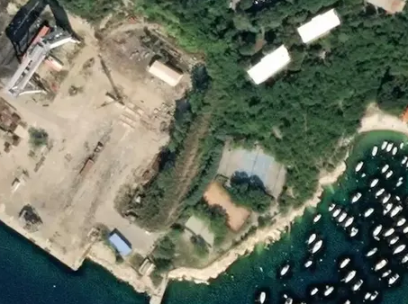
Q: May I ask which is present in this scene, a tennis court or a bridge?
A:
tennis court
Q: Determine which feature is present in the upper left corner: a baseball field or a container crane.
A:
container crane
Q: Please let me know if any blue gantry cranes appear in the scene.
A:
No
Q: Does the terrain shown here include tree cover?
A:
Yes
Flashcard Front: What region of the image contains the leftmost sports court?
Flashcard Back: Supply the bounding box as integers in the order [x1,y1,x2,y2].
[184,217,217,248]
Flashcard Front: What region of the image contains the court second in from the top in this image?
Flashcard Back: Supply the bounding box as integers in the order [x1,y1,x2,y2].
[200,184,253,232]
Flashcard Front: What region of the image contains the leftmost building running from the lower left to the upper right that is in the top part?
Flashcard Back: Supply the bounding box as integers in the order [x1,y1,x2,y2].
[247,44,294,84]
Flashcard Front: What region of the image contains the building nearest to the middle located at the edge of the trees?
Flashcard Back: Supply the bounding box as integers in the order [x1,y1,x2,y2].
[148,59,183,87]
